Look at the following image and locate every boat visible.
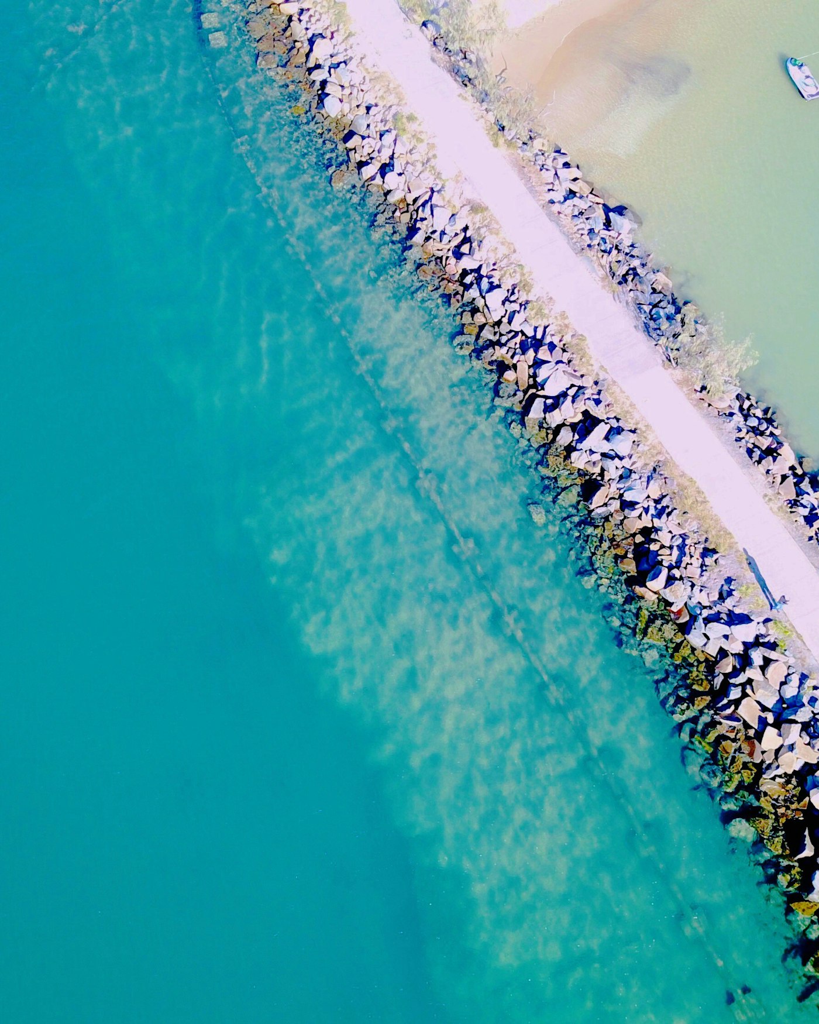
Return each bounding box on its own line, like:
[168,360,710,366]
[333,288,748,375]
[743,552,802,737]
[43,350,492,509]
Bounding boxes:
[788,56,819,109]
